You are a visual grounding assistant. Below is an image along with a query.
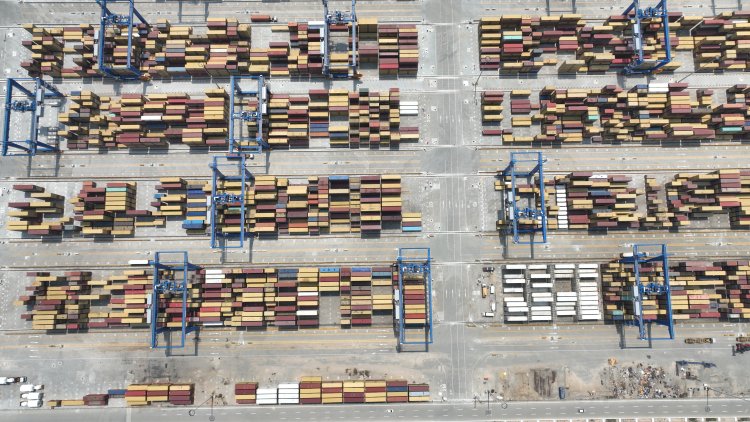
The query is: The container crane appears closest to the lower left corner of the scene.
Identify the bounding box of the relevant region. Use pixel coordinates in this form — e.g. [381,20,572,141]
[147,252,204,347]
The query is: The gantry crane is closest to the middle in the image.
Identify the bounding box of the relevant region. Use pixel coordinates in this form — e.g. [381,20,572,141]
[392,248,434,344]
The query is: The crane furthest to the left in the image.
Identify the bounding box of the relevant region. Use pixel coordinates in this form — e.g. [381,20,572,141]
[0,78,65,156]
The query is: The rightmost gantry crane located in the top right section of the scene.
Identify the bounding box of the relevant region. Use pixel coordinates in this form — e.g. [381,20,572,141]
[617,0,671,75]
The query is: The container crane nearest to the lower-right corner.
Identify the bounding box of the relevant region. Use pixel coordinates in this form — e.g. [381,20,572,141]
[613,245,675,340]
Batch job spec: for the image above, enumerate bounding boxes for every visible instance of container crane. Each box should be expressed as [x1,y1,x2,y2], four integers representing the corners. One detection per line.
[95,0,152,80]
[229,76,273,153]
[147,252,204,347]
[497,152,548,243]
[207,156,256,248]
[617,0,671,75]
[613,245,675,340]
[392,248,434,344]
[0,78,65,156]
[320,0,361,78]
